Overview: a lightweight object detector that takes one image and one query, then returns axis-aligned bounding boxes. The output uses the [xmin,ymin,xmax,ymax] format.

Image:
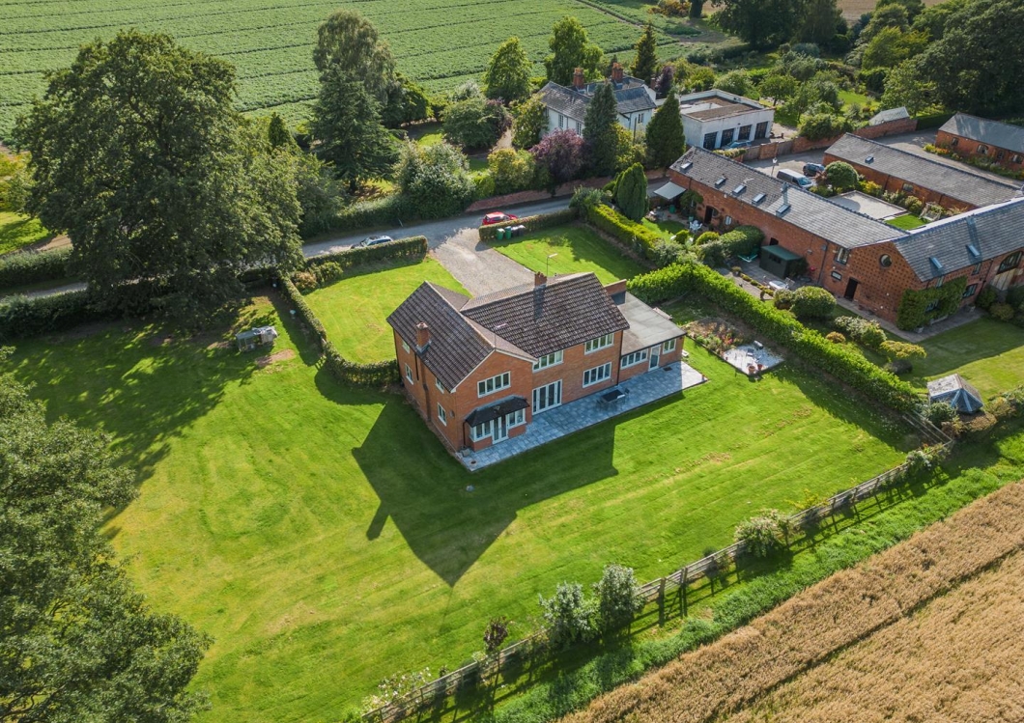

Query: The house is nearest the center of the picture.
[387,271,690,451]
